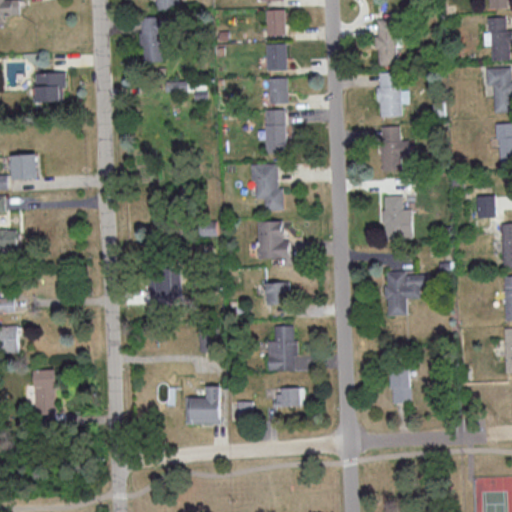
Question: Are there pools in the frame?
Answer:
Yes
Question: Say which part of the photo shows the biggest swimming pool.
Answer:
top left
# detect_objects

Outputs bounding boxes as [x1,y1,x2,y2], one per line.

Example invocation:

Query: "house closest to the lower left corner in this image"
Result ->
[32,369,58,415]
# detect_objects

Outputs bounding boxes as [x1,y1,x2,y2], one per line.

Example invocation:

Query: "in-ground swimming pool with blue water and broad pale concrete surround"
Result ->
[4,60,34,91]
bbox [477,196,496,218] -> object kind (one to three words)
house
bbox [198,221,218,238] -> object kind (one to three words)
shed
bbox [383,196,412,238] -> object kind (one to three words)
house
